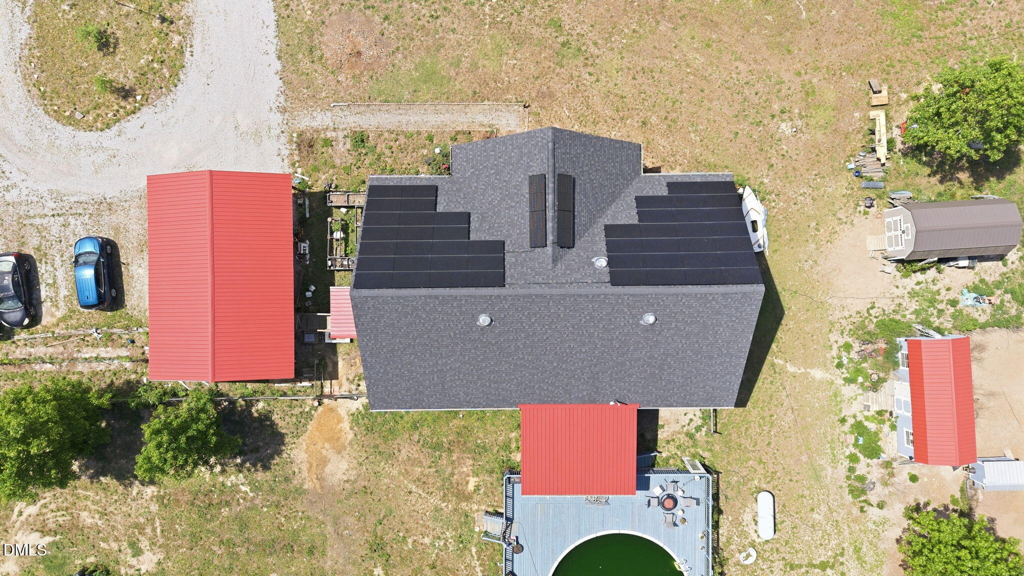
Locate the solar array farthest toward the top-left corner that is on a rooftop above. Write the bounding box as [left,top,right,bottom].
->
[352,184,505,287]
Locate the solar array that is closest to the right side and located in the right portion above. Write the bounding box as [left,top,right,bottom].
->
[602,181,760,284]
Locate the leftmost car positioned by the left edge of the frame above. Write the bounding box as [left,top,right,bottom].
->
[0,253,39,329]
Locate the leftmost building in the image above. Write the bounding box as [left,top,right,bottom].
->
[146,170,306,386]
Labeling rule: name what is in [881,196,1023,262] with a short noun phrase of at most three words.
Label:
shed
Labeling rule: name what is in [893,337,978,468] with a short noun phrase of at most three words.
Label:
shed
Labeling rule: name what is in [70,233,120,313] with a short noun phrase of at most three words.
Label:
car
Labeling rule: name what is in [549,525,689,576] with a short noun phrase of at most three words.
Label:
swimming pool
